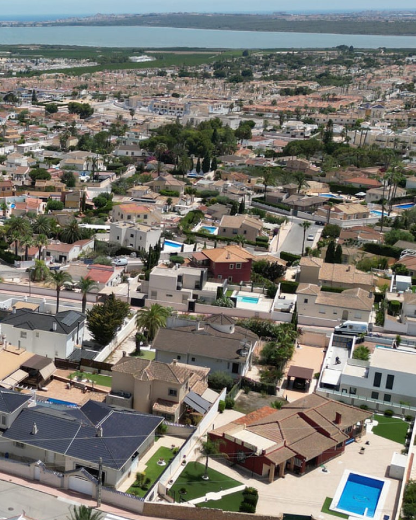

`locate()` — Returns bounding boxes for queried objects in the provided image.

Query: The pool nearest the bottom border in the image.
[325,468,391,520]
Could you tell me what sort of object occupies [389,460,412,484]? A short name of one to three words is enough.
shed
